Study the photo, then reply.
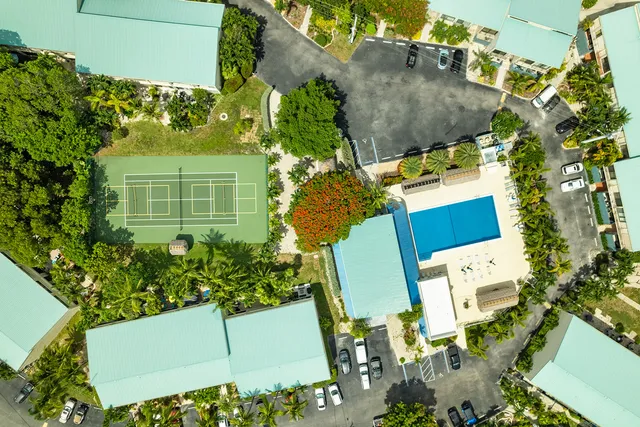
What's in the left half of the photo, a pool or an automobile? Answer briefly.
automobile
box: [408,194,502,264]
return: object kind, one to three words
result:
swimming pool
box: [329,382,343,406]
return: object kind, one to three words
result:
car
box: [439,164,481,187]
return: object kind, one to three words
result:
shed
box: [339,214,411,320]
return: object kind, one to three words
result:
building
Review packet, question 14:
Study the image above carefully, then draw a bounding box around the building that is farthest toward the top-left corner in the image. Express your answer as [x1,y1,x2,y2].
[0,0,229,92]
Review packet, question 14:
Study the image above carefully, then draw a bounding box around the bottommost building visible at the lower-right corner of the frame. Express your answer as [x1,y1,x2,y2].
[524,312,640,427]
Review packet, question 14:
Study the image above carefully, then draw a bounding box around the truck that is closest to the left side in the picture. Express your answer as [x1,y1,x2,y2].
[10,379,36,406]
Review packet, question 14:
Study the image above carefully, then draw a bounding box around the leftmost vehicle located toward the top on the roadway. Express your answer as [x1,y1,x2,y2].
[404,43,419,69]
